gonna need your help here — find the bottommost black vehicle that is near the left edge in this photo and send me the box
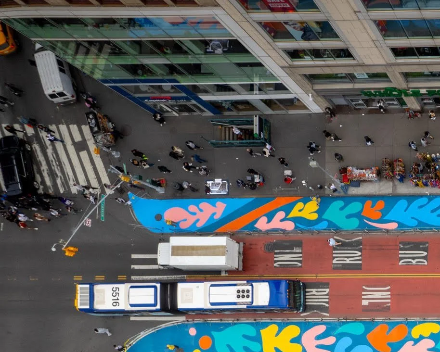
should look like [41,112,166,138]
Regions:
[0,139,44,205]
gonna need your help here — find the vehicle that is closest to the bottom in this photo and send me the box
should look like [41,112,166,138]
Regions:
[76,279,307,316]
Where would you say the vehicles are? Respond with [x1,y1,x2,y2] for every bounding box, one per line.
[0,139,44,205]
[162,236,246,273]
[33,44,86,107]
[76,279,307,316]
[0,23,28,62]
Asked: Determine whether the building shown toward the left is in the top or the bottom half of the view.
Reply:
top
